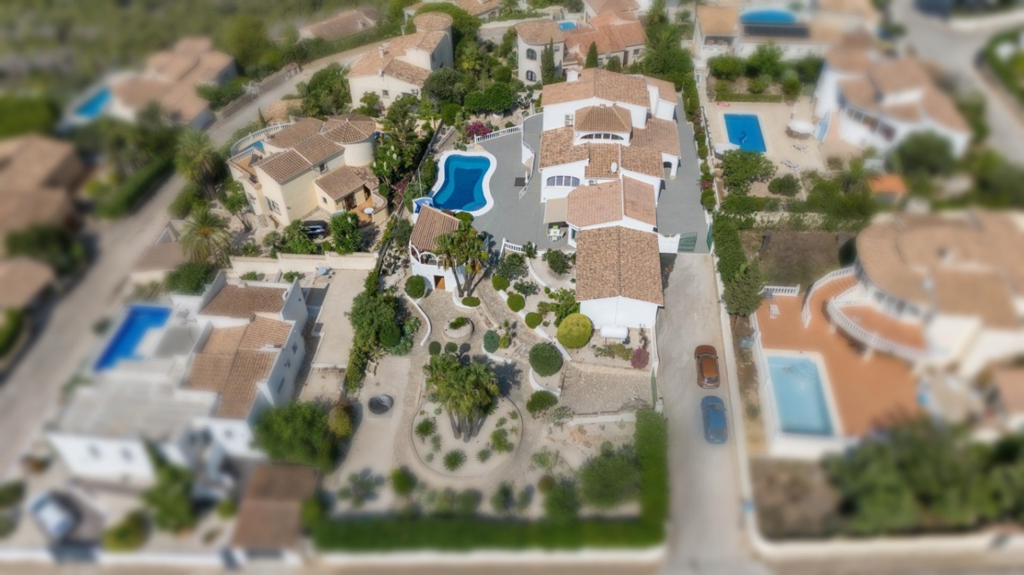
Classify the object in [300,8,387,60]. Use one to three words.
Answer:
house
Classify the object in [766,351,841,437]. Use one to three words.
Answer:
swimming pool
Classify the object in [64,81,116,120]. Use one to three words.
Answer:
swimming pool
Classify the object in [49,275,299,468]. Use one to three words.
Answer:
house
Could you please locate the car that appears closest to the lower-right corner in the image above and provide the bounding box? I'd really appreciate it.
[701,399,731,446]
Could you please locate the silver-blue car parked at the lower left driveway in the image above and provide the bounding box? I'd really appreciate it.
[32,492,76,550]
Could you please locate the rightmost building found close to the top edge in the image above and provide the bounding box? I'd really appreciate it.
[820,28,968,164]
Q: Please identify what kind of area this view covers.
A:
residential area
